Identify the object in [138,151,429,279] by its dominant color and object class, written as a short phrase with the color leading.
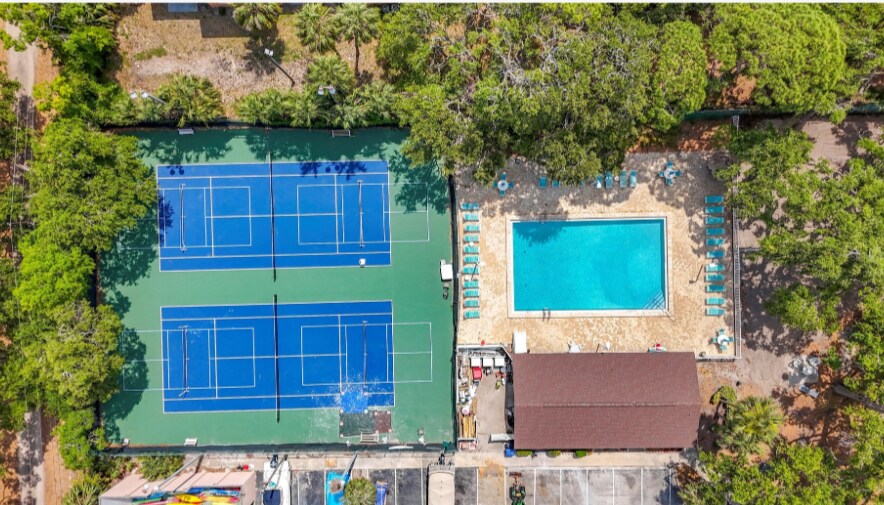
blue tennis court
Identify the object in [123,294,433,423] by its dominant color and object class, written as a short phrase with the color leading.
blue tennis court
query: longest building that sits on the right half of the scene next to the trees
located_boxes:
[513,351,704,451]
